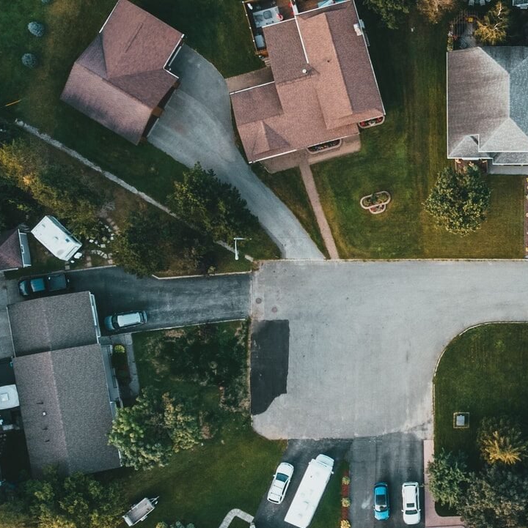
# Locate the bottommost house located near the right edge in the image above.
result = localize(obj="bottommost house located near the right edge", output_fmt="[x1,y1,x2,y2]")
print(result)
[447,46,528,165]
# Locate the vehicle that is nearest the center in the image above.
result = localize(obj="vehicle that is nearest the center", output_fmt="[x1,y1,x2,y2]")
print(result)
[104,310,149,332]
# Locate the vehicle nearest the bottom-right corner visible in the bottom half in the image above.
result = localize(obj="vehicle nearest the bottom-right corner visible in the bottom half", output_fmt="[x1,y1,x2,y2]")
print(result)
[401,482,420,525]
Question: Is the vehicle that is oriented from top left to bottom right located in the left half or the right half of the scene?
left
